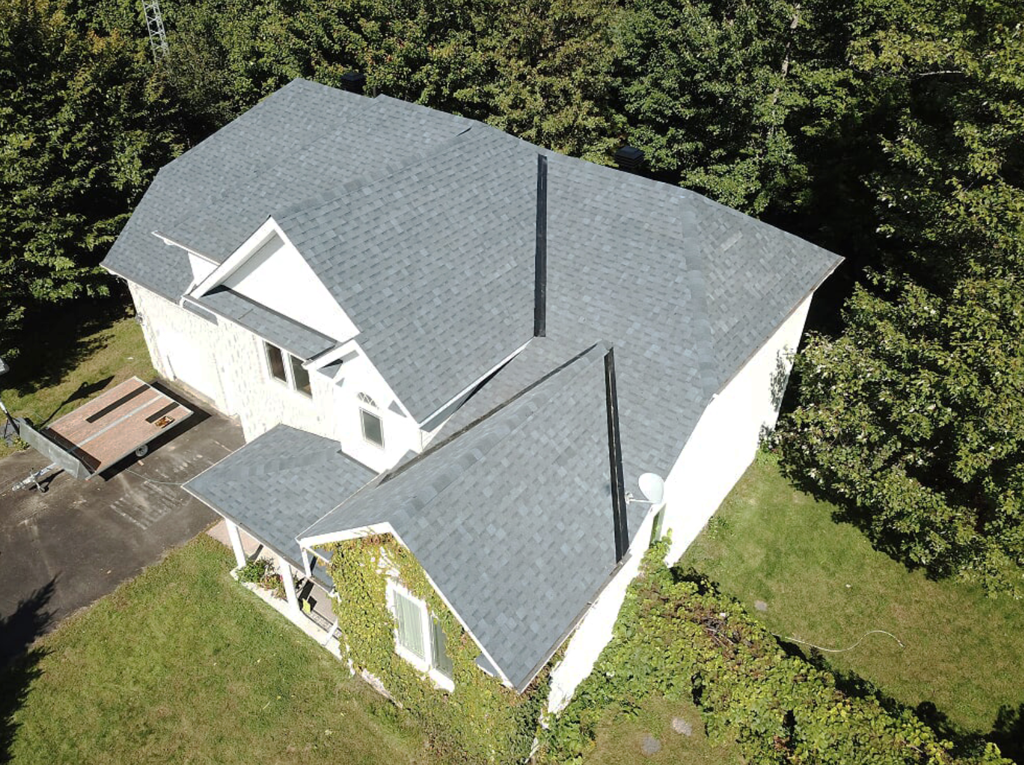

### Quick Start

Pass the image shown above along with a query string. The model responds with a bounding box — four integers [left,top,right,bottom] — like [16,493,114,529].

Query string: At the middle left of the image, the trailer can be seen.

[4,376,195,493]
